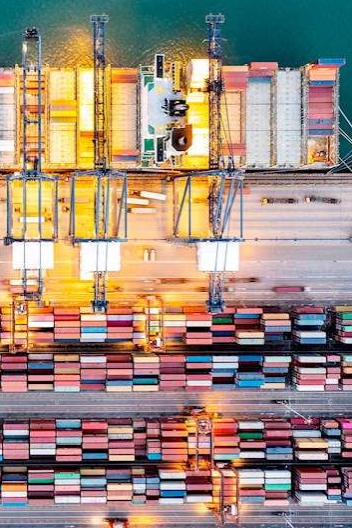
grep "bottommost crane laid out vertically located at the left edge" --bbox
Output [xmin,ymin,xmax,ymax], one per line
[6,295,35,358]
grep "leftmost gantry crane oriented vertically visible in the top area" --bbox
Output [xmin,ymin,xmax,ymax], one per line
[1,27,65,310]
